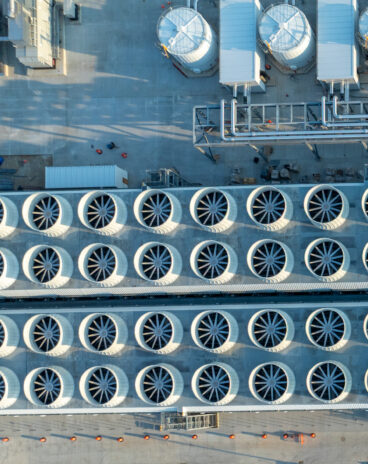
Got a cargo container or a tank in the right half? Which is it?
tank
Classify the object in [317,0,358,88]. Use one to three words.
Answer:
shed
